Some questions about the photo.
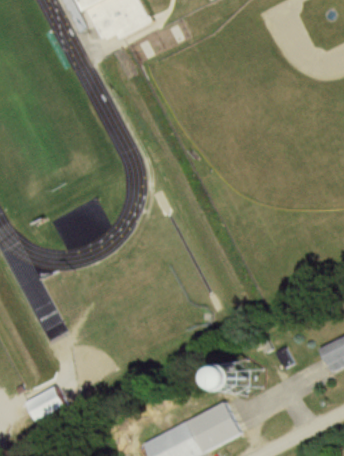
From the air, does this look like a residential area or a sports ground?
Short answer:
sports ground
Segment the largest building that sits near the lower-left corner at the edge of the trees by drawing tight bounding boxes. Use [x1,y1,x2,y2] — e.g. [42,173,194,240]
[26,386,62,421]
